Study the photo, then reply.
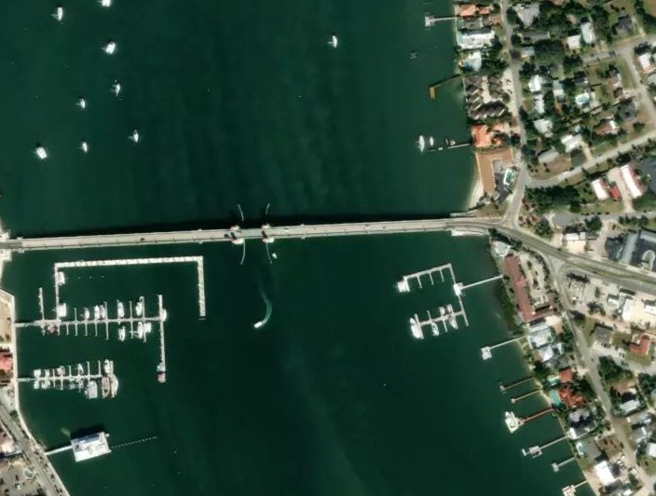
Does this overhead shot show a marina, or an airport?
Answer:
marina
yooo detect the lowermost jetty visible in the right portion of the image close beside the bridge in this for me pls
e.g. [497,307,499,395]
[404,263,503,339]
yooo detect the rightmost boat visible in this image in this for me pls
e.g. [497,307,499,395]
[504,412,520,434]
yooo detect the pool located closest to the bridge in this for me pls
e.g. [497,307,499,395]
[504,168,516,185]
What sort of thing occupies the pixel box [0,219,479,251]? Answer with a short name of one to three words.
bridge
